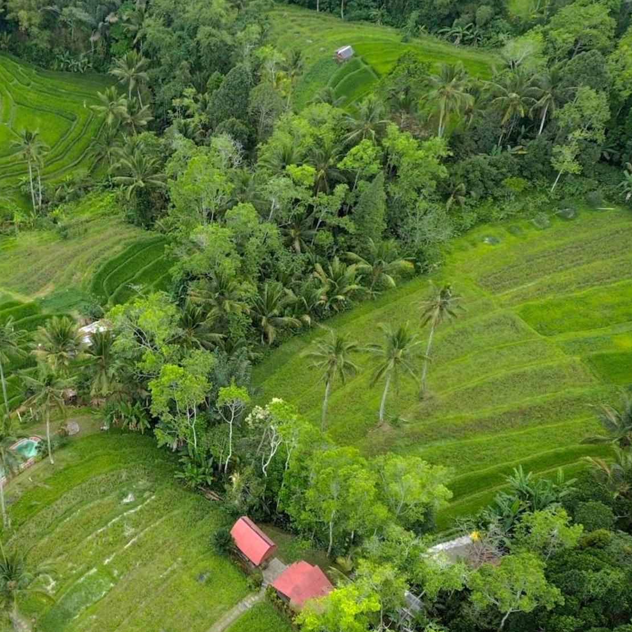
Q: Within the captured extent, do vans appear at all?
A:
No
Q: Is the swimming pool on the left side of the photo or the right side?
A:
left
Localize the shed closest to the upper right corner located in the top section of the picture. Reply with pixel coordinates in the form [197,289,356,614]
[330,48,356,67]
